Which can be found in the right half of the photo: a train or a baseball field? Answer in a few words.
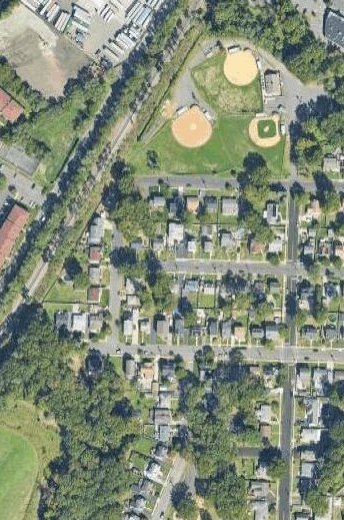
baseball field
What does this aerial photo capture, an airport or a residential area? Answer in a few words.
residential area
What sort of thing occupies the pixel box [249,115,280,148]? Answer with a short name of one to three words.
baseball field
